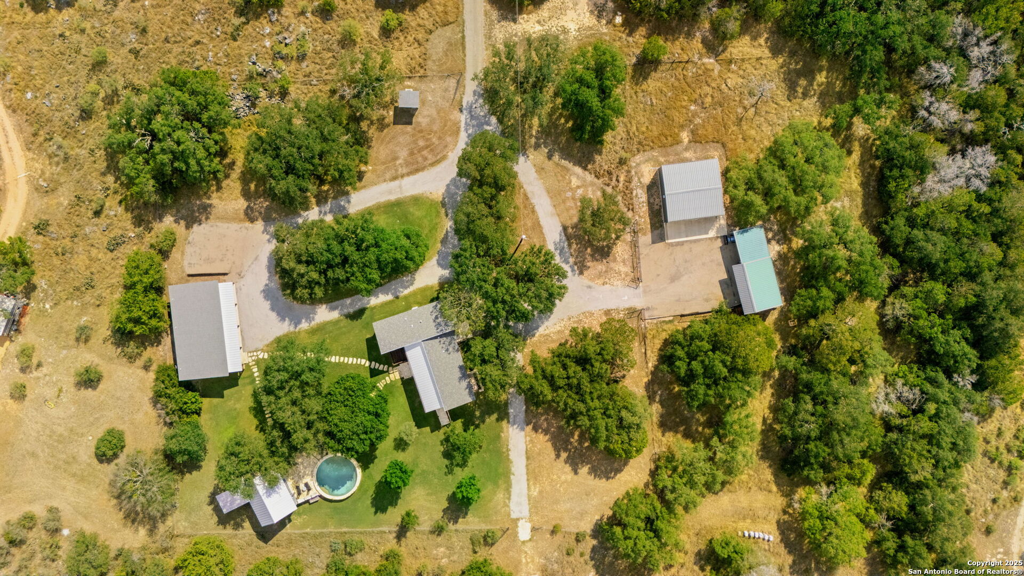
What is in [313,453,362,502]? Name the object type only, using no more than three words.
swimming pool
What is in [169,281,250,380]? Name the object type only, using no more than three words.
barn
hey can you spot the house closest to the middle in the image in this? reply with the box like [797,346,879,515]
[372,299,475,413]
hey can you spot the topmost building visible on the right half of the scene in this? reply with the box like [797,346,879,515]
[658,158,725,224]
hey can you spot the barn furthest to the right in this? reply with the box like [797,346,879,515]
[728,225,783,314]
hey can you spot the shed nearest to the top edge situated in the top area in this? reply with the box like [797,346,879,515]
[399,86,421,112]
